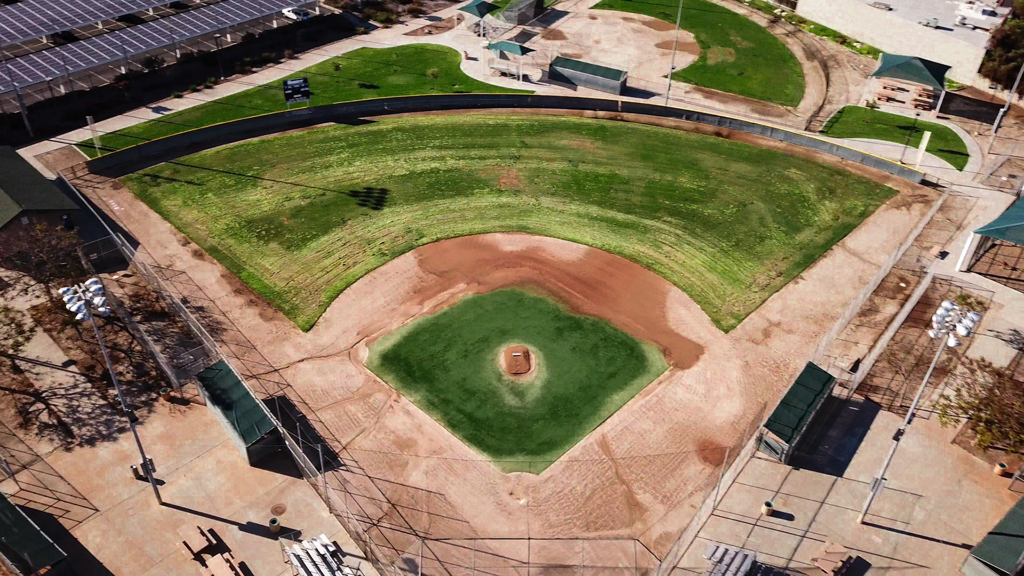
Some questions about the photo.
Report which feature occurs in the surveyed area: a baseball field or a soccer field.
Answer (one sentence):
The image shows a baseball field.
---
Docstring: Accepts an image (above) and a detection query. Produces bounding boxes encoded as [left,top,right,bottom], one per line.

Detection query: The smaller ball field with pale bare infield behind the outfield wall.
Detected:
[512,0,811,128]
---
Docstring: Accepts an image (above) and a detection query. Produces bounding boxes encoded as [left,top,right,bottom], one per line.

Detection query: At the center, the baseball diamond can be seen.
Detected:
[64,109,944,576]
